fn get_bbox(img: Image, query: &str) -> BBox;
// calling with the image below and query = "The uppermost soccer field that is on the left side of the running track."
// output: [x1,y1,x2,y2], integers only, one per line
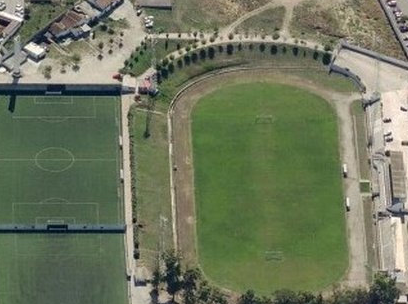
[0,89,126,231]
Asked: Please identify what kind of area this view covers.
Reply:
sports ground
